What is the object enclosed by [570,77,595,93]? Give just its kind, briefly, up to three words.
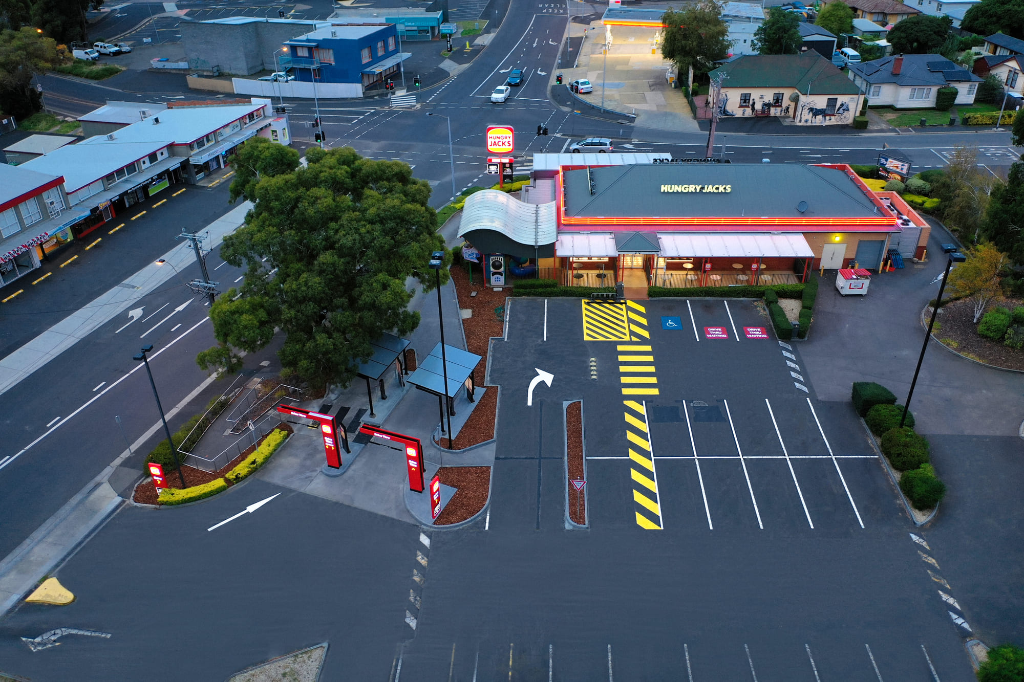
car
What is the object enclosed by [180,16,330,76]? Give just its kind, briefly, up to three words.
building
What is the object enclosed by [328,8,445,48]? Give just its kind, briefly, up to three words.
building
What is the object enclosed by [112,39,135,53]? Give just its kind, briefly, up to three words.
car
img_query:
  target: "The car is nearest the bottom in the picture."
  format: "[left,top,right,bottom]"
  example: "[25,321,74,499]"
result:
[569,134,614,154]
